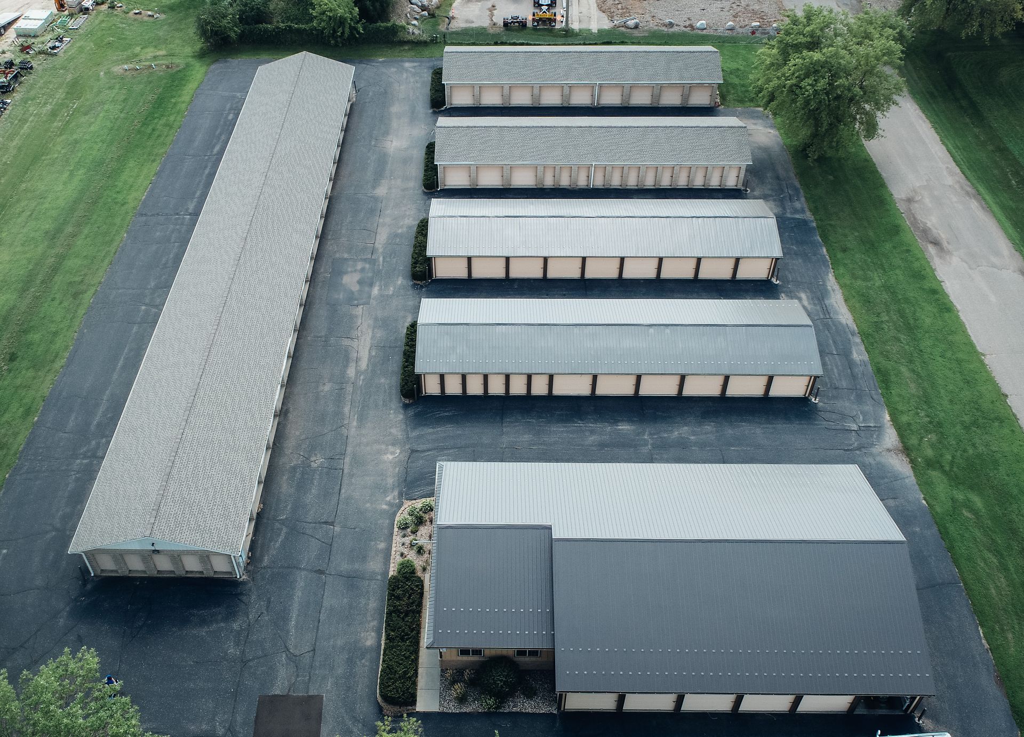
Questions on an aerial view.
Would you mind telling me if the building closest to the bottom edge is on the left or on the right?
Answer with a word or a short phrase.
right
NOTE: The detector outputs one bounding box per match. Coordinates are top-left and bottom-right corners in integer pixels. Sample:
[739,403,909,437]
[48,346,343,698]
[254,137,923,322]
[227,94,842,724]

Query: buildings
[412,463,933,715]
[441,46,725,107]
[434,117,753,189]
[427,199,785,280]
[415,299,824,397]
[69,51,355,580]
